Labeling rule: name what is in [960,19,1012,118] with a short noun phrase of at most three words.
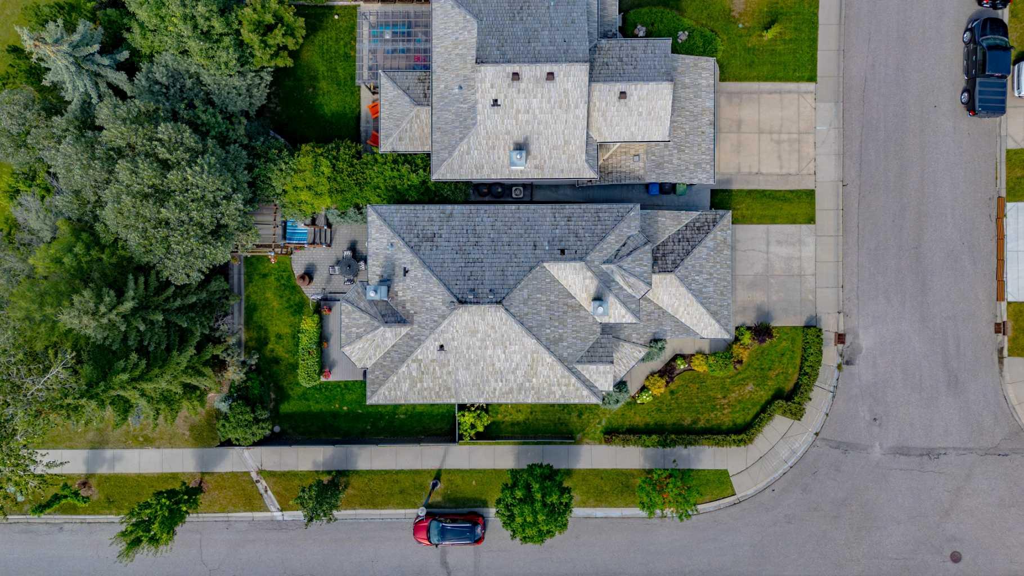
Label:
truck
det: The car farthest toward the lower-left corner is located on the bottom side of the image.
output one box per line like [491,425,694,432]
[414,510,487,550]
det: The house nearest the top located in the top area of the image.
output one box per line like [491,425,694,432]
[377,0,718,187]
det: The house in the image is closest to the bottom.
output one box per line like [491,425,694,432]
[338,202,734,407]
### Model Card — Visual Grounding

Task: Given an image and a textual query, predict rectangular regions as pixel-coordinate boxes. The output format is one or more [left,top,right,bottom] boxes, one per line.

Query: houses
[338,202,734,407]
[377,0,718,187]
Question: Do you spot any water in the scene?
No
